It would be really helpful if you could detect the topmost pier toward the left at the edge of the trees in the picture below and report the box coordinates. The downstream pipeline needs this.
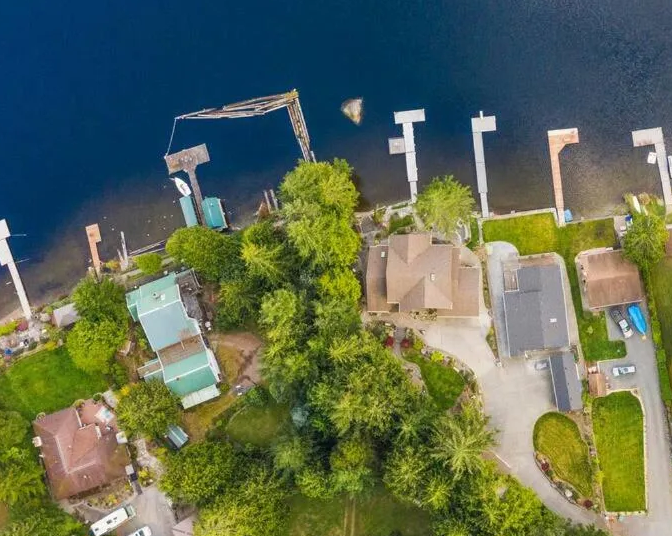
[164,143,211,226]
